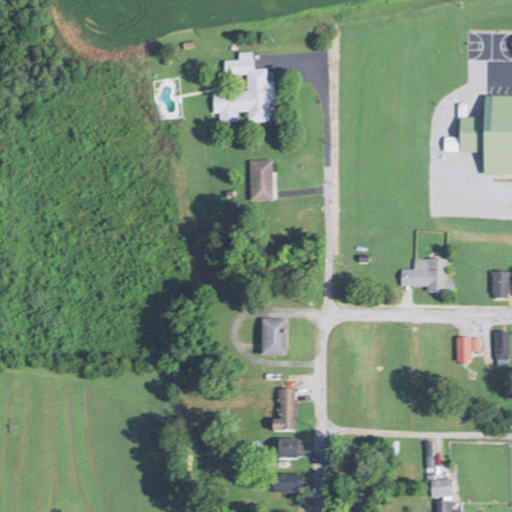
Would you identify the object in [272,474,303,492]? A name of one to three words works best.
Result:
house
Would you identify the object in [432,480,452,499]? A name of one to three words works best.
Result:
building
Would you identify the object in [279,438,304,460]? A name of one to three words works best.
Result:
house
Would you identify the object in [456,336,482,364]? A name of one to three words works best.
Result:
building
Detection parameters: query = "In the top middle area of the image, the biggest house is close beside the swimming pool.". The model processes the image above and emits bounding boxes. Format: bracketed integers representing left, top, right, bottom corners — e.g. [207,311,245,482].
[214,52,274,124]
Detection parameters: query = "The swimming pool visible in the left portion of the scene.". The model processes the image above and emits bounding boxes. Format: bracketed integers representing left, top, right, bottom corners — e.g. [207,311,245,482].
[154,80,195,118]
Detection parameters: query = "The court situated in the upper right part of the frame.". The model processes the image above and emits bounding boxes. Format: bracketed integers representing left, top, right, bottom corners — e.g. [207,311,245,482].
[469,32,512,61]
